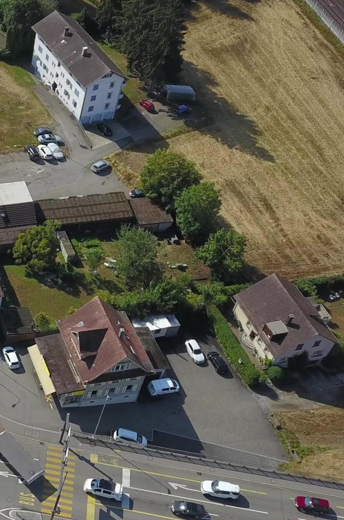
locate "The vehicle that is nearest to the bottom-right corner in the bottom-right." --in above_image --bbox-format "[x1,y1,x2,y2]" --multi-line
[293,494,332,516]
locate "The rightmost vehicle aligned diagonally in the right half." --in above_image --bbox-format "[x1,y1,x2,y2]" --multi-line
[205,350,228,377]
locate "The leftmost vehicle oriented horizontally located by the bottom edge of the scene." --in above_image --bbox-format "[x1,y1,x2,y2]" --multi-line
[83,477,126,501]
